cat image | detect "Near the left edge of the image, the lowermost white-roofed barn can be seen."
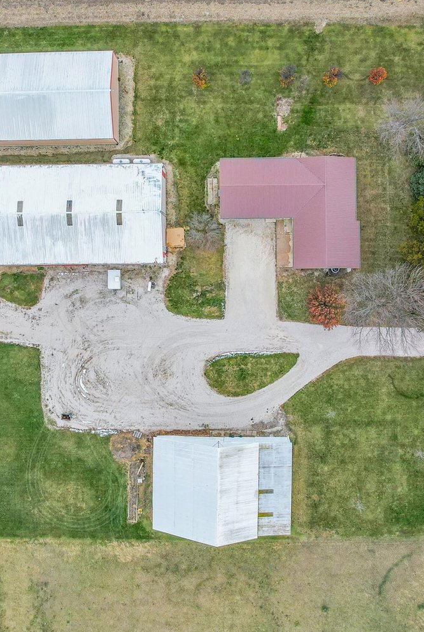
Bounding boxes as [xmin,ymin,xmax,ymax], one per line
[0,163,167,266]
